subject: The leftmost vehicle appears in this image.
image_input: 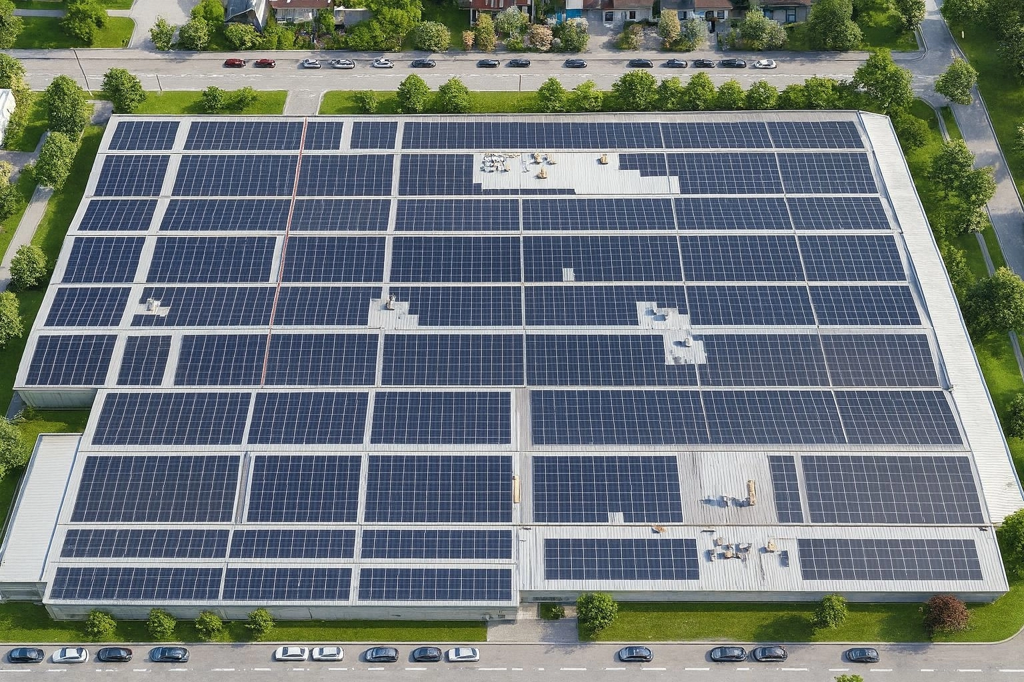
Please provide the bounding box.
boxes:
[6,646,47,665]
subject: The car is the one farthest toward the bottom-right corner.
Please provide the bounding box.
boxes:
[845,647,882,665]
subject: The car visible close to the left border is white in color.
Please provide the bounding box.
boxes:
[51,646,90,665]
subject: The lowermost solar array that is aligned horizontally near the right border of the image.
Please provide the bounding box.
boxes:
[798,538,984,579]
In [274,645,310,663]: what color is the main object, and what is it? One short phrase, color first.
white car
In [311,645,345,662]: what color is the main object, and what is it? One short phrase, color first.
white car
